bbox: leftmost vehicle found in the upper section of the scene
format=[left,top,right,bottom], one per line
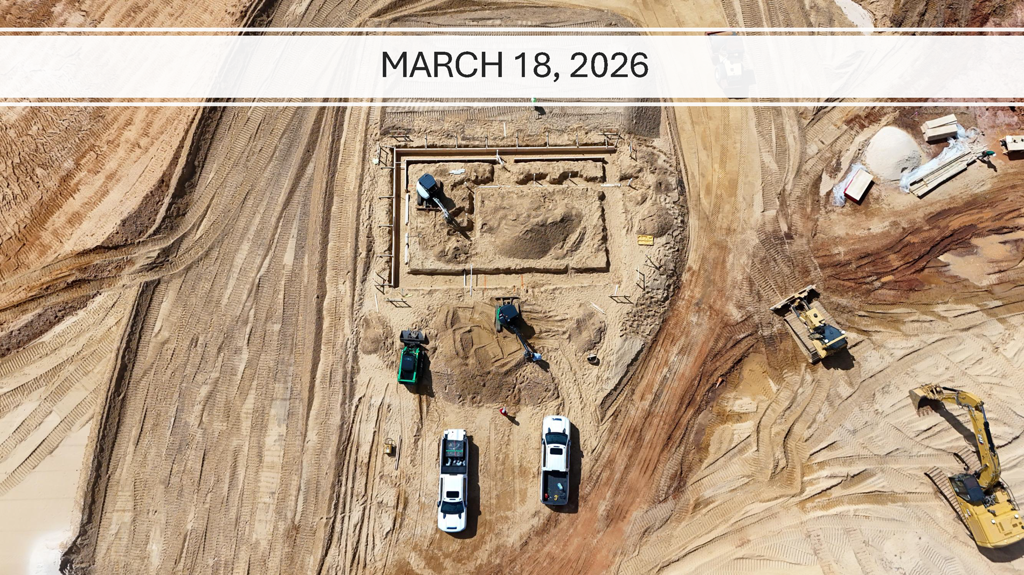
[413,170,454,227]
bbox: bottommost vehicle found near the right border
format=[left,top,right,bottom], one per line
[907,380,1024,548]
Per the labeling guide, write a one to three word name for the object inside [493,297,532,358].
work vehicle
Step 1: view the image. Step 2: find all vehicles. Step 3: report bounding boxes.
[540,417,574,513]
[413,170,454,227]
[907,380,1024,548]
[433,430,469,533]
[770,284,850,363]
[396,335,428,387]
[493,297,532,358]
